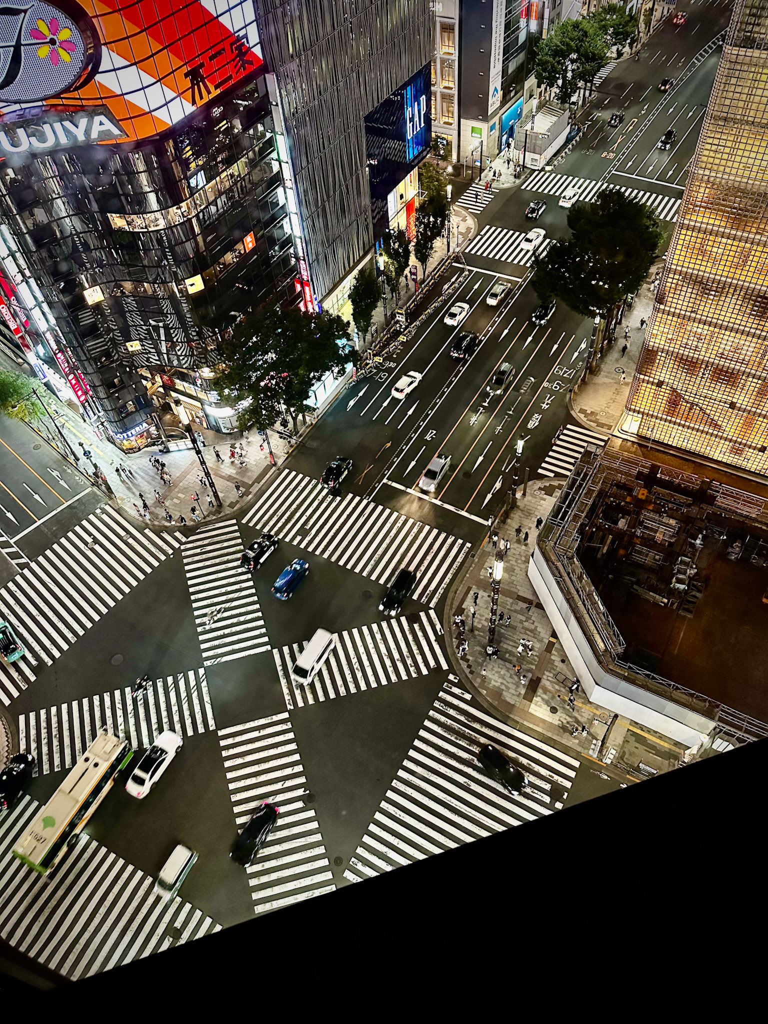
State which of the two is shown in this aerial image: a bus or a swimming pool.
bus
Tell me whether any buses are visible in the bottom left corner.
Yes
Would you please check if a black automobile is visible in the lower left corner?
Yes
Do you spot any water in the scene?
No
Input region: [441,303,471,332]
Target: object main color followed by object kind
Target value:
white car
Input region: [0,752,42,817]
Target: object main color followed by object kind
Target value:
black car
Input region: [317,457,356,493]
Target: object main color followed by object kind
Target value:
black car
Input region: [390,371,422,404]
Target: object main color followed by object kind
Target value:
white car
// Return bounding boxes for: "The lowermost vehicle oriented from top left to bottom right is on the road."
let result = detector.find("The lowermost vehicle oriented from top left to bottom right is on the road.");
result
[473,736,532,801]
